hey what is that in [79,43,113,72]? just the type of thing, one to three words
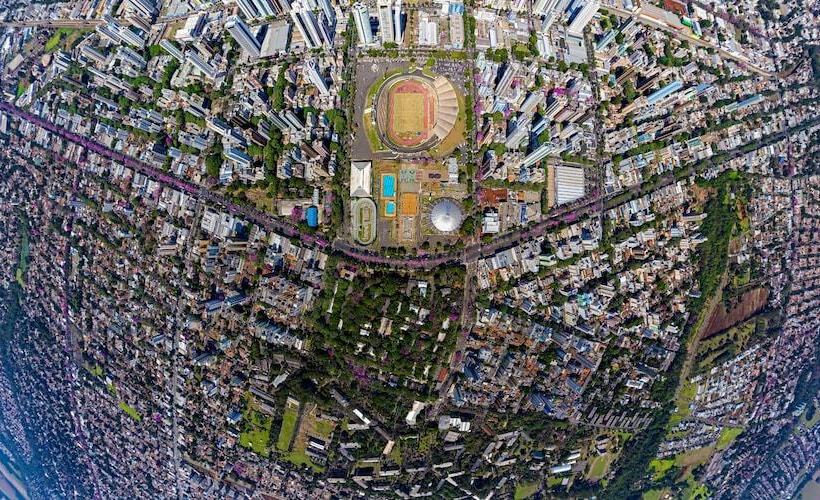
building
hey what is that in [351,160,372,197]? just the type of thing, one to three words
building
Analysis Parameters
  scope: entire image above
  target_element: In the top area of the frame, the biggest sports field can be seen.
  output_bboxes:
[395,93,425,135]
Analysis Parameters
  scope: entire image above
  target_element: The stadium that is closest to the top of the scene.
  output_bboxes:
[363,62,460,154]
